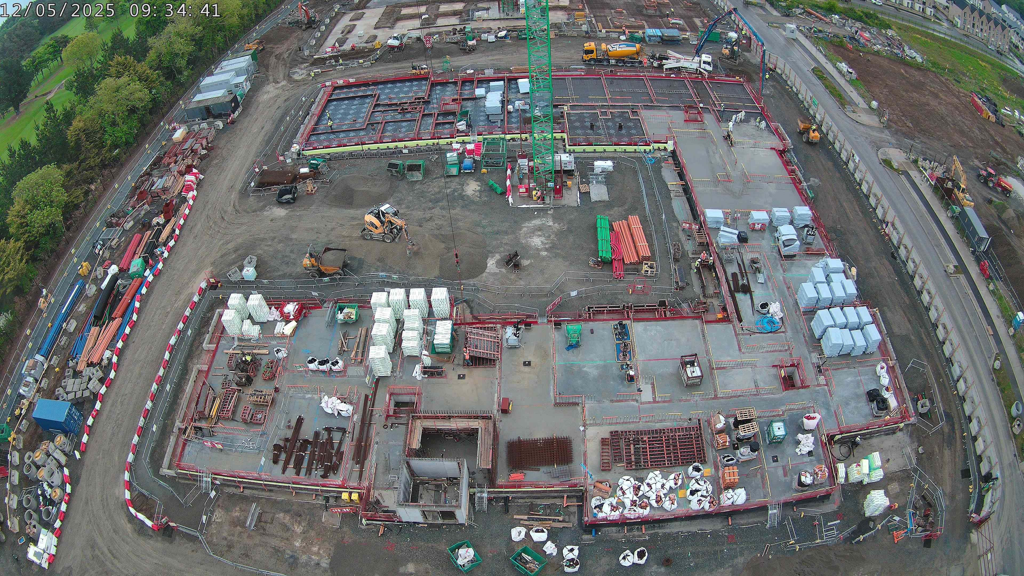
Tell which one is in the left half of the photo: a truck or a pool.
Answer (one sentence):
Visible in the left half of the photo is a truck.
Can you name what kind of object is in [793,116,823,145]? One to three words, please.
truck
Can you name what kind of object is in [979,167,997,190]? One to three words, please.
work vehicle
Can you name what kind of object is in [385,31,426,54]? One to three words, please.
work vehicle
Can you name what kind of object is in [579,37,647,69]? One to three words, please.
truck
